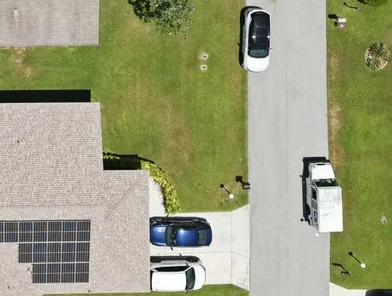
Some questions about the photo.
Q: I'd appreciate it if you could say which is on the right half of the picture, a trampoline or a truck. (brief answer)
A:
truck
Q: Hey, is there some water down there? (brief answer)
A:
No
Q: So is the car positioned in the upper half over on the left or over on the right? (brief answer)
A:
right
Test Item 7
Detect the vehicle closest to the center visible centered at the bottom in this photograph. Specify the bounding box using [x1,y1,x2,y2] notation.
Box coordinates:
[149,216,212,249]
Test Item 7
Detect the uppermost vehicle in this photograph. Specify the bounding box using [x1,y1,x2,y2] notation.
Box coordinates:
[239,8,273,72]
